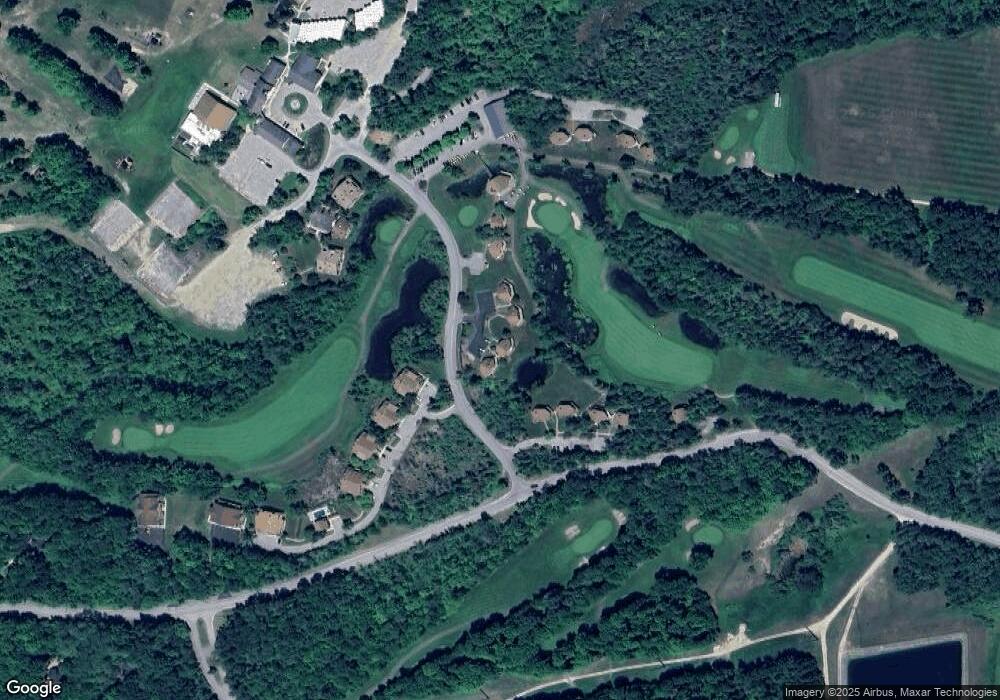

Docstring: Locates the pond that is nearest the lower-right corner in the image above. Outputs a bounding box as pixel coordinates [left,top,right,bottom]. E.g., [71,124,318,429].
[838,633,969,700]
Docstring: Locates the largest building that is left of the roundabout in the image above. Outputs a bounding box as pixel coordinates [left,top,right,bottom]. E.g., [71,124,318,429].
[172,83,239,157]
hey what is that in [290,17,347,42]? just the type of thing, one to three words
building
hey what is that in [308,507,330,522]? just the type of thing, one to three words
swimming pool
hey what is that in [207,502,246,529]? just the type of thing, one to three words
house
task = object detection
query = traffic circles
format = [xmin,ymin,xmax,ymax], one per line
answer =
[264,81,343,140]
